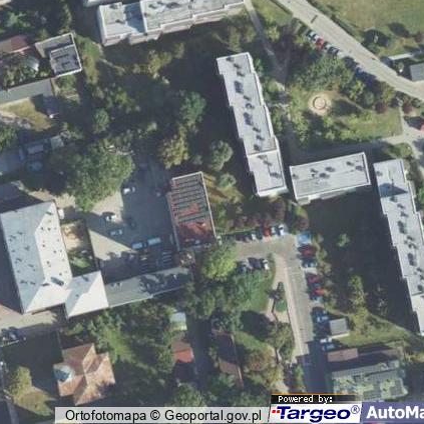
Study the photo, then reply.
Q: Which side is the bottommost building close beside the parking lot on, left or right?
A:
right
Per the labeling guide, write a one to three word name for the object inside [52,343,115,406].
house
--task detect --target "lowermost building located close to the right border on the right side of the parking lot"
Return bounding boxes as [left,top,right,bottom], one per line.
[330,359,408,409]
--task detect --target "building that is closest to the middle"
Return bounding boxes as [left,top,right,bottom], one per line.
[168,171,216,253]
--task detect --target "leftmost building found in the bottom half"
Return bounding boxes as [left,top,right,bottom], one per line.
[0,201,76,317]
